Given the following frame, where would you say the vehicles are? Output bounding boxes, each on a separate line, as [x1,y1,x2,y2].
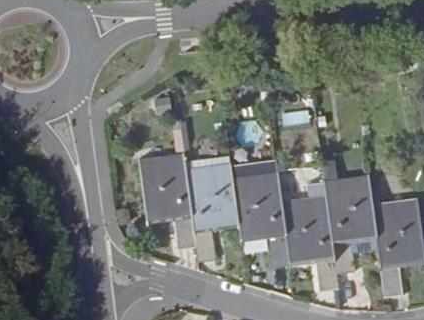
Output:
[220,281,242,294]
[275,266,286,287]
[344,281,354,300]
